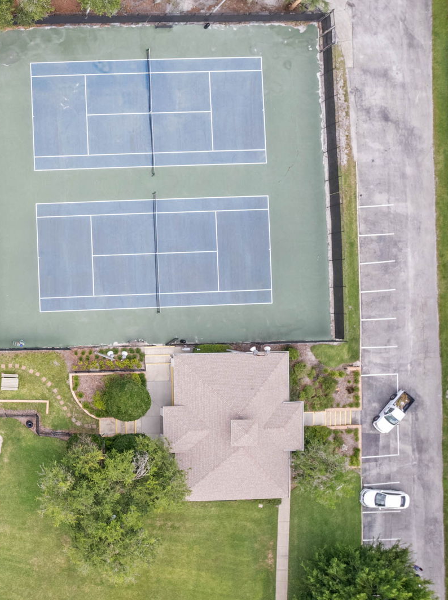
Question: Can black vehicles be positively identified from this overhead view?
No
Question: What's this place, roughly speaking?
sports ground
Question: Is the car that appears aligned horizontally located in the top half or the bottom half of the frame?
bottom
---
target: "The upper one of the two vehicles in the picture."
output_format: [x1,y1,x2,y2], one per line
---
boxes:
[371,387,415,433]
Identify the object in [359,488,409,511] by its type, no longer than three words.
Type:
car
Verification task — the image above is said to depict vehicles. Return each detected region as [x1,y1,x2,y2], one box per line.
[371,387,415,433]
[359,488,409,511]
